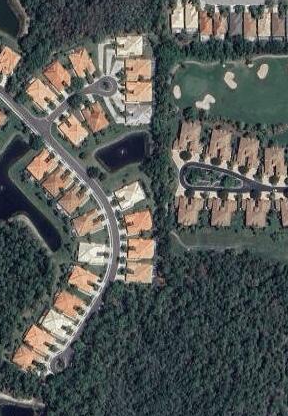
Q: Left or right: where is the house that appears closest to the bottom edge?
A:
left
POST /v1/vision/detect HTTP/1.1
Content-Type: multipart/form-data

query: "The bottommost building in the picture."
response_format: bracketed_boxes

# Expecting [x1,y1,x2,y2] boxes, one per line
[12,345,41,370]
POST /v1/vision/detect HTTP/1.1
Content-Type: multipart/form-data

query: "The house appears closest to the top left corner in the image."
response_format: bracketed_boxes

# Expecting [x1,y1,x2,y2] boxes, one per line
[0,46,22,74]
